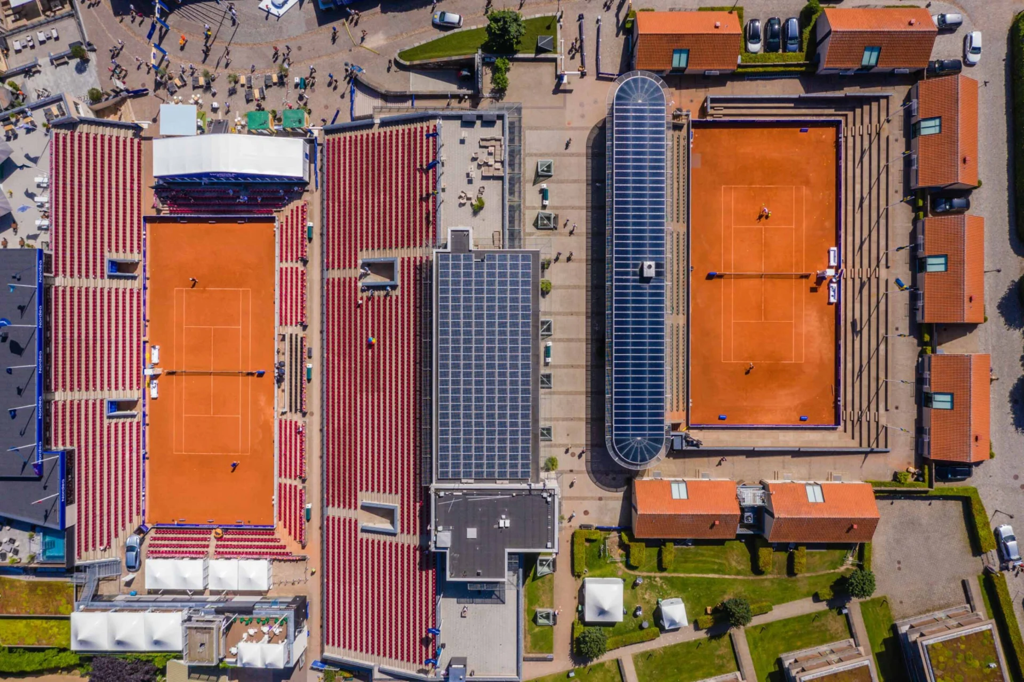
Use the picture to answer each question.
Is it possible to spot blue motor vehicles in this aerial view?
Yes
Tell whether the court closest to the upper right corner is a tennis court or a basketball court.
tennis court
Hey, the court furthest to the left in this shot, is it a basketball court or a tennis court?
tennis court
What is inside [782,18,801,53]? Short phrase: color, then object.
blue car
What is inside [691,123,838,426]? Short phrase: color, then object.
orange tennis court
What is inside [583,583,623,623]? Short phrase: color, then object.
white tent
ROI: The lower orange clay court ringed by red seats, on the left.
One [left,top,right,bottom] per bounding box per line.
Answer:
[143,219,276,528]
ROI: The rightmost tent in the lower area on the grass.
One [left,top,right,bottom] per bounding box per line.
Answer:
[658,596,688,630]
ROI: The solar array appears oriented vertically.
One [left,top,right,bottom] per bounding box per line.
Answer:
[438,254,531,479]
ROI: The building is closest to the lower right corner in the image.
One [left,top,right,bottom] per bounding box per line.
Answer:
[899,602,1008,682]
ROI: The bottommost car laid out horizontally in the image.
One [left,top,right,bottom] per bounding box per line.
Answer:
[934,464,971,481]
